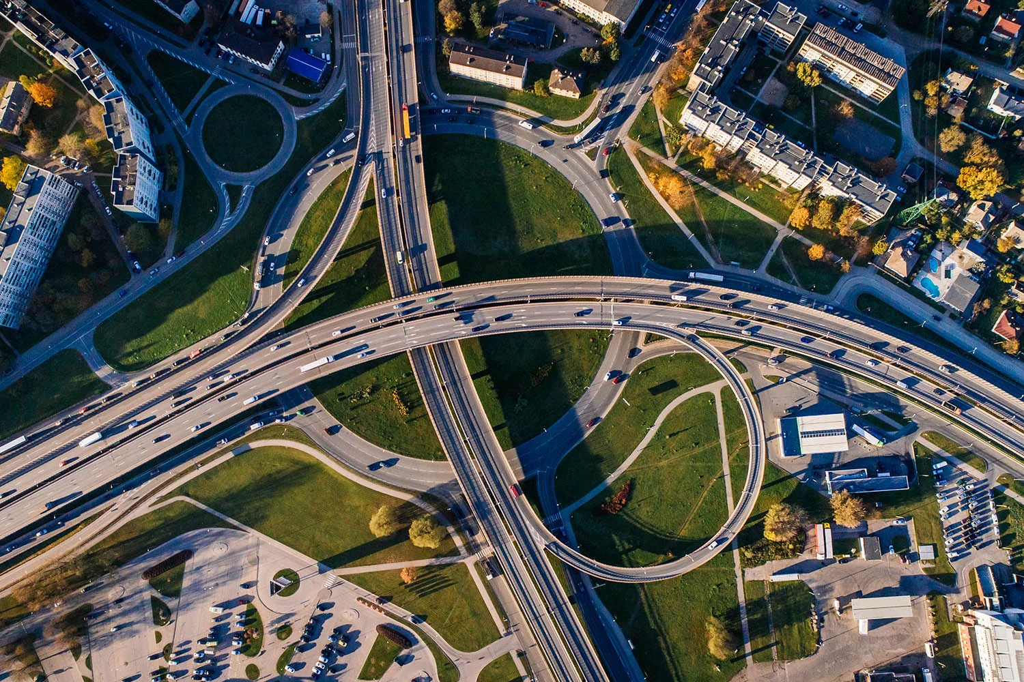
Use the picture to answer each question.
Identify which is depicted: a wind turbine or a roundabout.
roundabout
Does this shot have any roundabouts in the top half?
Yes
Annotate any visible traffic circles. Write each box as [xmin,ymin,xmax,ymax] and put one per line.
[189,82,297,185]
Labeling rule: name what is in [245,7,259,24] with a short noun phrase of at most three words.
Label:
vehicle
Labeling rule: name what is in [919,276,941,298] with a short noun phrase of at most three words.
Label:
swimming pool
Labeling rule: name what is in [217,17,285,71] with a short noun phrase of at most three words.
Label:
building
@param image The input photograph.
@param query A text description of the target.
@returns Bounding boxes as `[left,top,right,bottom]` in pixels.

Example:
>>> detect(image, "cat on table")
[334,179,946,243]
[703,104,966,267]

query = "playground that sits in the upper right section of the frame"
[759,78,787,105]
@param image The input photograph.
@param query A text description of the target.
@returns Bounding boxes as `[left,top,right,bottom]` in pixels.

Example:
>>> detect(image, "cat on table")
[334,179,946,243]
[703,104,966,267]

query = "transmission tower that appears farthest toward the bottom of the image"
[898,200,931,223]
